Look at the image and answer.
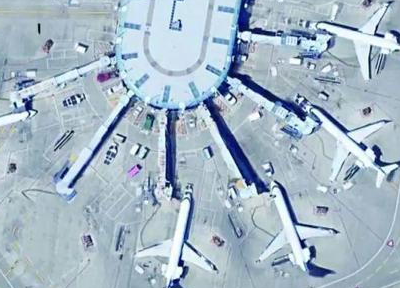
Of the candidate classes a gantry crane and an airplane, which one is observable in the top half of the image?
airplane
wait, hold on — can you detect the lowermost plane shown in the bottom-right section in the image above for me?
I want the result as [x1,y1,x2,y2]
[256,182,334,288]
